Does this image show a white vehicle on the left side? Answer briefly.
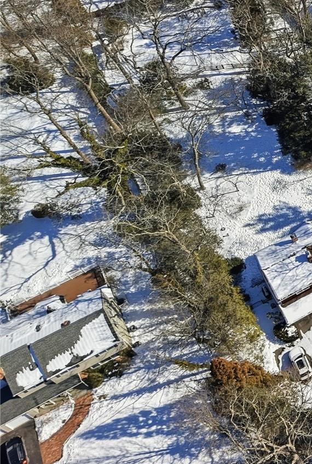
No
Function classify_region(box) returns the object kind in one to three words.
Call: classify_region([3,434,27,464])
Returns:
car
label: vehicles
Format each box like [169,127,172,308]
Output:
[3,434,27,464]
[289,347,312,381]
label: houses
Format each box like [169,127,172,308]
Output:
[256,225,312,334]
[0,260,129,440]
